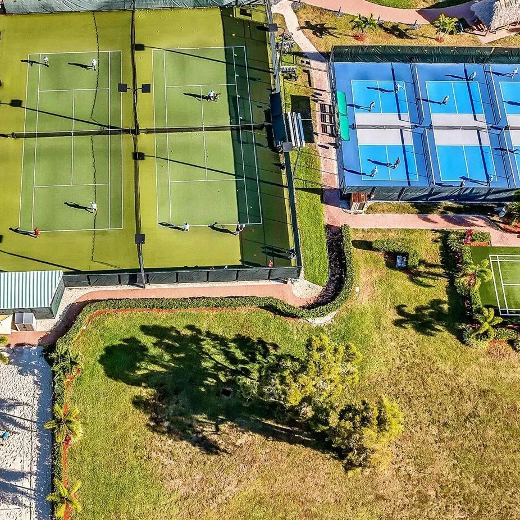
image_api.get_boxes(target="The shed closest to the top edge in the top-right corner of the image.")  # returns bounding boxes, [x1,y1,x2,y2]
[467,0,520,45]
